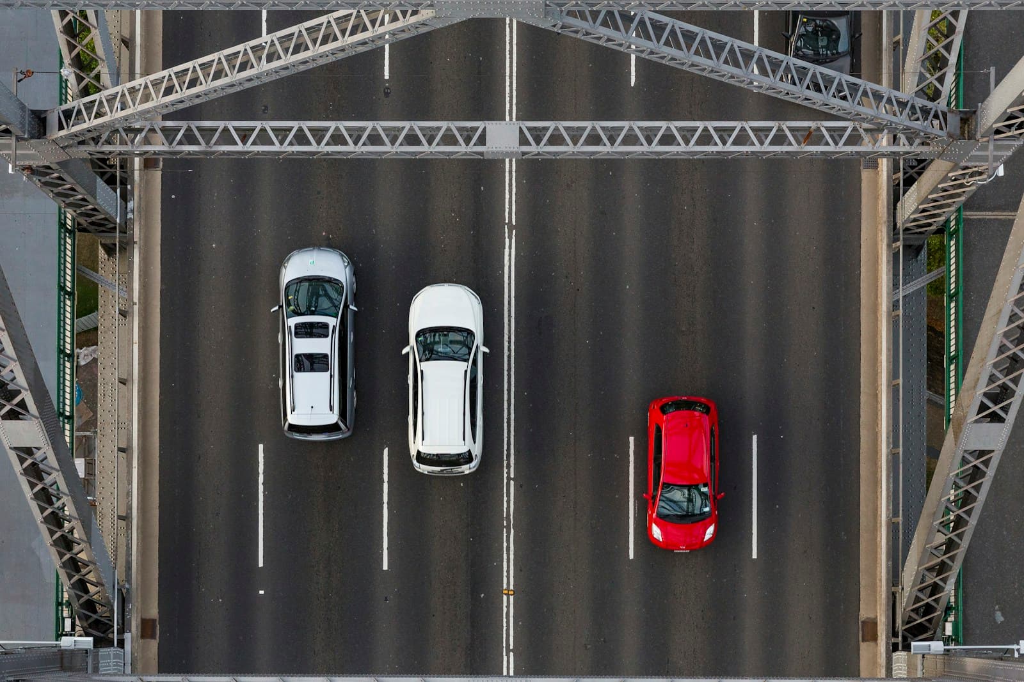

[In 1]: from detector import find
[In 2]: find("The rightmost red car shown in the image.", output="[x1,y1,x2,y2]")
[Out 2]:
[641,396,724,551]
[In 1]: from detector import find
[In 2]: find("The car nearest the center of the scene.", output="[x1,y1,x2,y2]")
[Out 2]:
[401,284,489,475]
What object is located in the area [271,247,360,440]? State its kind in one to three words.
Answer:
car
